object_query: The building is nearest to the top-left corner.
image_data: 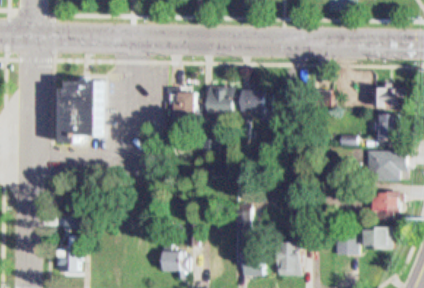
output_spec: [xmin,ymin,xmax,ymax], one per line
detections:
[57,82,106,146]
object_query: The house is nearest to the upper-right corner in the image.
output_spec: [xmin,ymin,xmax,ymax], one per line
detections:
[376,88,399,110]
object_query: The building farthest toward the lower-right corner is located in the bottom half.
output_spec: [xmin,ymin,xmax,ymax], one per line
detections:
[364,227,395,250]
